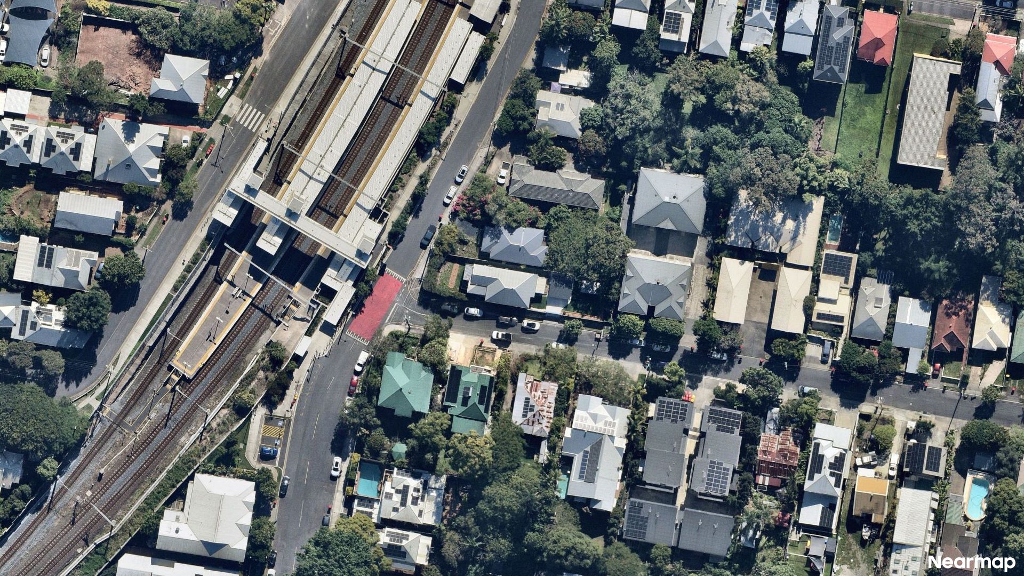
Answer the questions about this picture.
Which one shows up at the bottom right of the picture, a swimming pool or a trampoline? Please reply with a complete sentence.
The one visible at the bottom right of the picture is a swimming pool.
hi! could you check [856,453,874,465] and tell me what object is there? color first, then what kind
white vehicle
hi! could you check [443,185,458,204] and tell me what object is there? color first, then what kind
white car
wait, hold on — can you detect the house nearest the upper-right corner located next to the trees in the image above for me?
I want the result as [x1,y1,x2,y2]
[976,33,1017,122]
